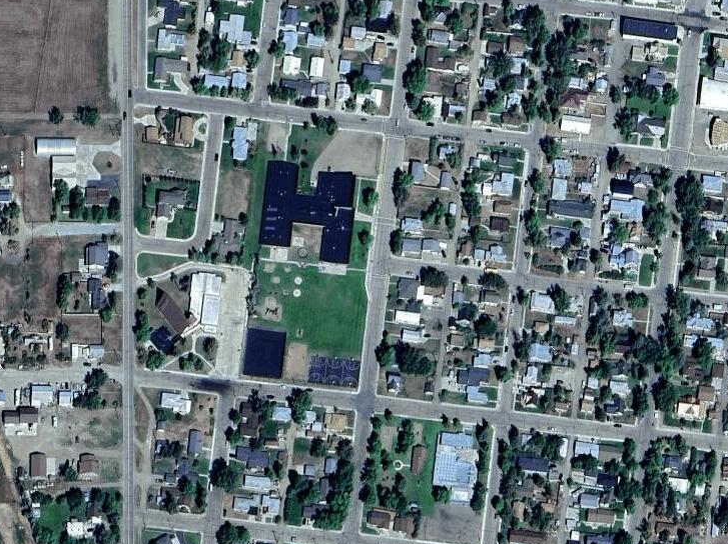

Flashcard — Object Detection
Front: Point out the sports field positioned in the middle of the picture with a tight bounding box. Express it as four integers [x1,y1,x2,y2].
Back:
[248,262,370,356]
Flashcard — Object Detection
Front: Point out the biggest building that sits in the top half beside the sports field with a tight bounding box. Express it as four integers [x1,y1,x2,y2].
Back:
[259,161,356,267]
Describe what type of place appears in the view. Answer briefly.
residential area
